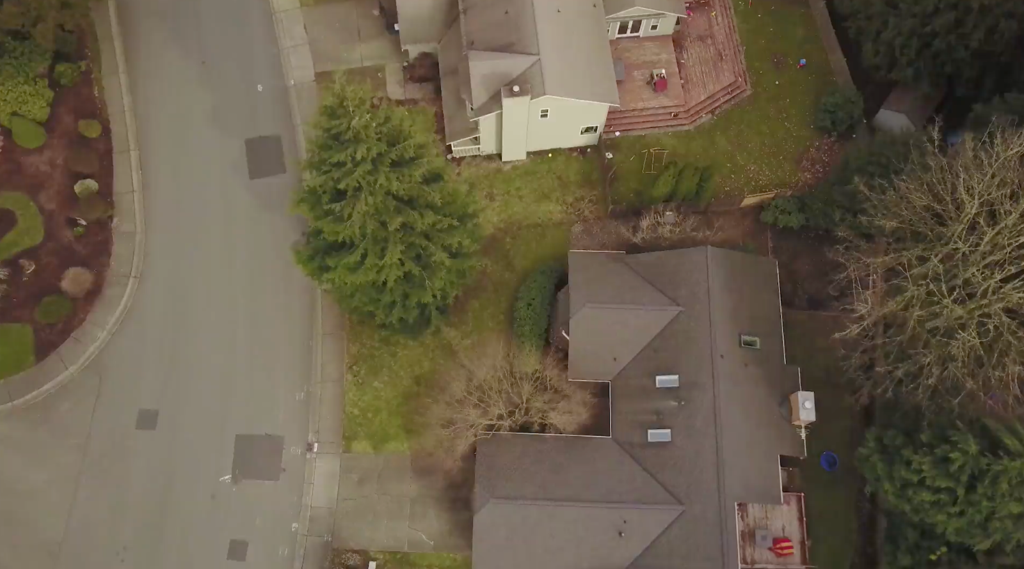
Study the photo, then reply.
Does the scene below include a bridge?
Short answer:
No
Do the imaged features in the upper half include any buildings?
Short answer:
Yes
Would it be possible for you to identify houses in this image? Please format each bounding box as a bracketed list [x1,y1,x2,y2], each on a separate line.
[471,245,819,569]
[397,0,687,161]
